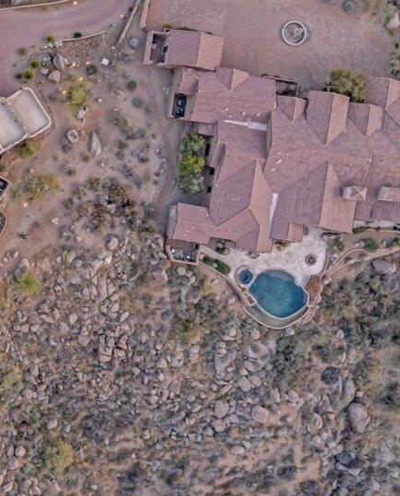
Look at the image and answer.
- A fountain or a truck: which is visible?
fountain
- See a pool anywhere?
Yes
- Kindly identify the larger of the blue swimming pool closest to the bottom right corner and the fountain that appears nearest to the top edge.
the swimming pool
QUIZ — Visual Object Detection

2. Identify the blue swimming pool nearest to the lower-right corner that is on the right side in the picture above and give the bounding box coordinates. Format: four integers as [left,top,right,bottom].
[247,268,309,319]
